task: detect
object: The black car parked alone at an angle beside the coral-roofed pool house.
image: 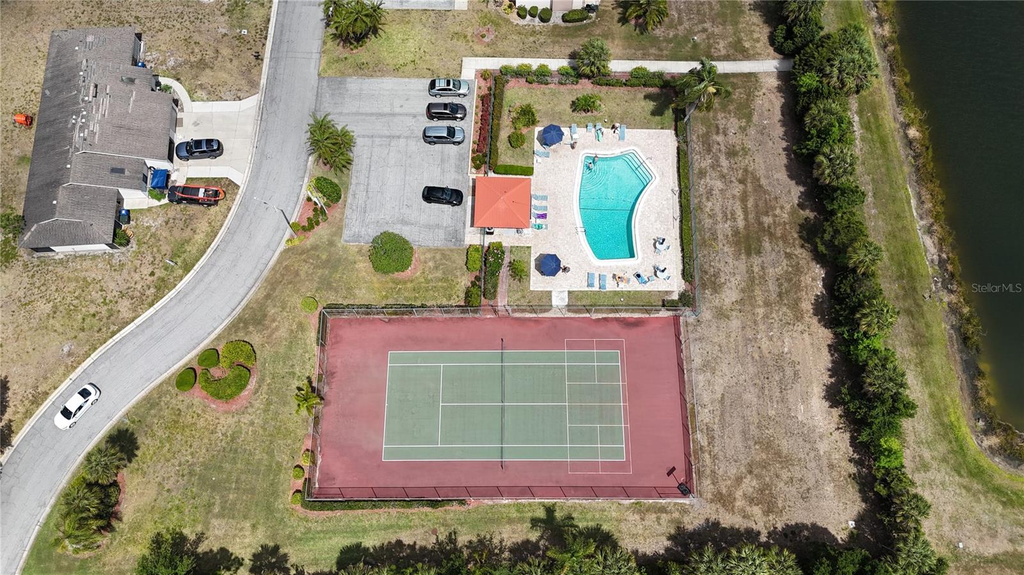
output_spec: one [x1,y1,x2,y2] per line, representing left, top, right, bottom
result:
[421,186,463,208]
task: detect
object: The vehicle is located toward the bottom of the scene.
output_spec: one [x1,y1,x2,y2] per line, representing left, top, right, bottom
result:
[54,383,103,431]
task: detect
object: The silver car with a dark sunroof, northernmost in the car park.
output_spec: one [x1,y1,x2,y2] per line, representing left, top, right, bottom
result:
[428,79,468,100]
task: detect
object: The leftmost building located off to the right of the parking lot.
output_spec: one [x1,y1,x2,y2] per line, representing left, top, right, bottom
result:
[473,177,531,233]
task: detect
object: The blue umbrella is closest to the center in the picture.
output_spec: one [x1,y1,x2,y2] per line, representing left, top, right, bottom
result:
[537,254,563,278]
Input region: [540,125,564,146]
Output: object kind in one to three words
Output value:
umbrella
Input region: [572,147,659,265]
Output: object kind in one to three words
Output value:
swimming pool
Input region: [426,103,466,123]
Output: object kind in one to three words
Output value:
car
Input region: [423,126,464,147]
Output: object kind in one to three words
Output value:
car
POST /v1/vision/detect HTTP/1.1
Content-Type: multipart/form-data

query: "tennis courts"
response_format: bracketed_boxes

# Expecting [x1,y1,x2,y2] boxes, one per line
[313,315,692,499]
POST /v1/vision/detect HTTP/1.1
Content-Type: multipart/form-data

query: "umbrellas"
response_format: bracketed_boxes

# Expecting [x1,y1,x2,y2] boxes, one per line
[540,125,564,146]
[537,254,563,278]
